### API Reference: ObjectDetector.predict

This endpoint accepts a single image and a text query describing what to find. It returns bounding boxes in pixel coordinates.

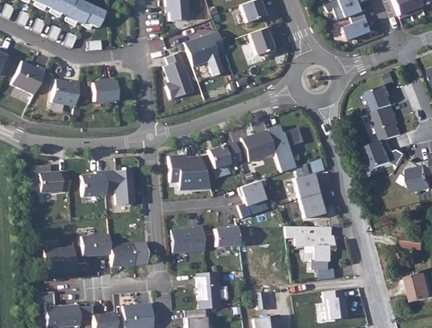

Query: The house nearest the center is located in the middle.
[209,142,242,178]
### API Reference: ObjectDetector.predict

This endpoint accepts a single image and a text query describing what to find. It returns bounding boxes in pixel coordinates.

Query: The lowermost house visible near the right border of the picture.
[402,272,432,302]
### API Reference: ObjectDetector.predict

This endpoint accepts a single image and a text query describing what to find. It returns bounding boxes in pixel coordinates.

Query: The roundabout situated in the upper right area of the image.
[286,48,346,112]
